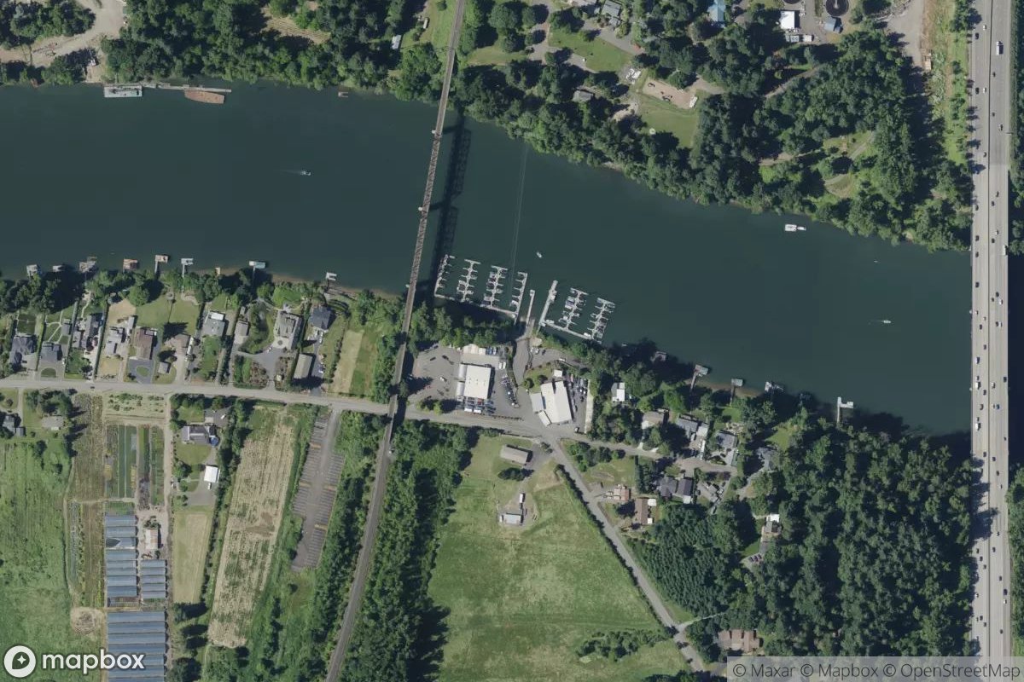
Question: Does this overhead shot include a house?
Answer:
Yes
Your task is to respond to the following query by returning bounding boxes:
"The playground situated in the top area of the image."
[643,78,698,108]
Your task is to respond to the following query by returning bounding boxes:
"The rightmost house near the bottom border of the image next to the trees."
[725,632,754,652]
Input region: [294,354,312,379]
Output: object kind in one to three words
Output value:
barn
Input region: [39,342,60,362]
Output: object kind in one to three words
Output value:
house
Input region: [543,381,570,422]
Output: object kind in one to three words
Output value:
building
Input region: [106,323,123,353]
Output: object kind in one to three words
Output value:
house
